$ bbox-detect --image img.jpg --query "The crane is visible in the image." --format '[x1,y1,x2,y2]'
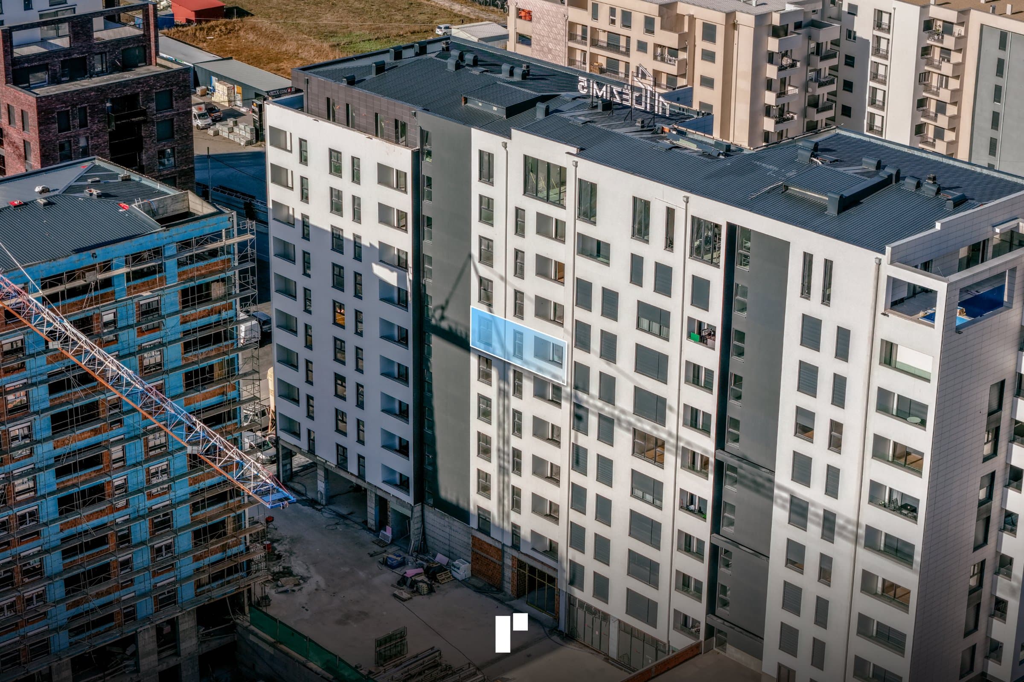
[0,253,302,511]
